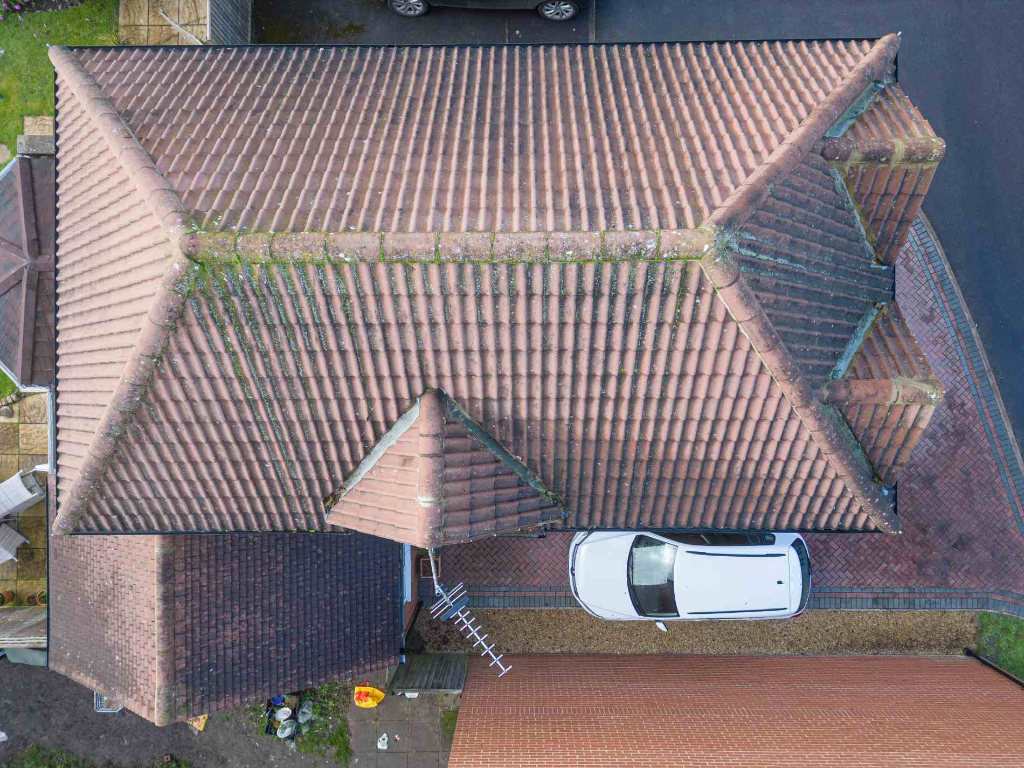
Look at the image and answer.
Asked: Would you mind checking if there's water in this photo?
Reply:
No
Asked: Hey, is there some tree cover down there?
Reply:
No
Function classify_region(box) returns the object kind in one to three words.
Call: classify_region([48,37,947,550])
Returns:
house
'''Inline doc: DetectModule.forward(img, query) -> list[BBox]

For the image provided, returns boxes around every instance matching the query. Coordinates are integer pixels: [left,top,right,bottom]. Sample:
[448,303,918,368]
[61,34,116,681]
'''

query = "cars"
[385,0,598,18]
[568,525,811,634]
